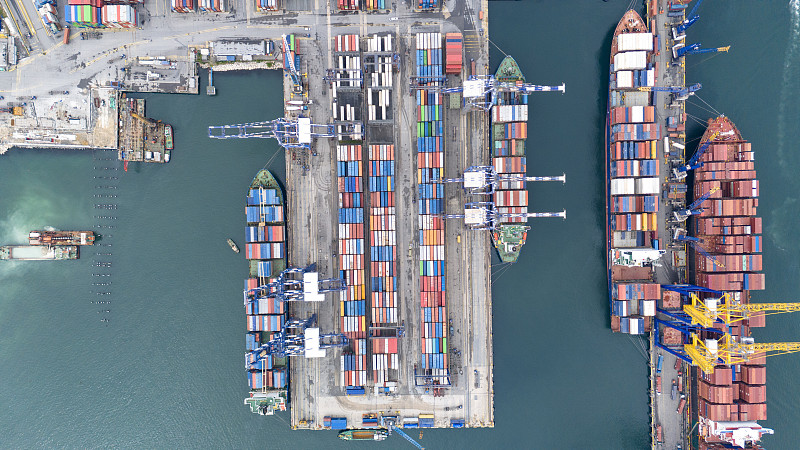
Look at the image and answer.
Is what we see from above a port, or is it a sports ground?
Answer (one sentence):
This looks like a port.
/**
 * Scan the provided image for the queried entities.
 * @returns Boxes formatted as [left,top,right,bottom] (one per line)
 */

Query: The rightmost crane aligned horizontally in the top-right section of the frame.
[668,33,733,62]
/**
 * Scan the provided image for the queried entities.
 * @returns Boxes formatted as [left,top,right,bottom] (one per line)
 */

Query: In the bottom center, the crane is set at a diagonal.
[379,411,427,450]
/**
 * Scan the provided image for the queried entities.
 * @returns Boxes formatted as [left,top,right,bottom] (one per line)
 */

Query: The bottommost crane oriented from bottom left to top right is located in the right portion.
[669,185,722,225]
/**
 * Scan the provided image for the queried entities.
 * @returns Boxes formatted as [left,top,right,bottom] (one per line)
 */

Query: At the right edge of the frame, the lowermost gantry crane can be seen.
[655,314,800,371]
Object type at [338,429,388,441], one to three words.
boat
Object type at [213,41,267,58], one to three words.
building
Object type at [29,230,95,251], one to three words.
ship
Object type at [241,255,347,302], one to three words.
container crane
